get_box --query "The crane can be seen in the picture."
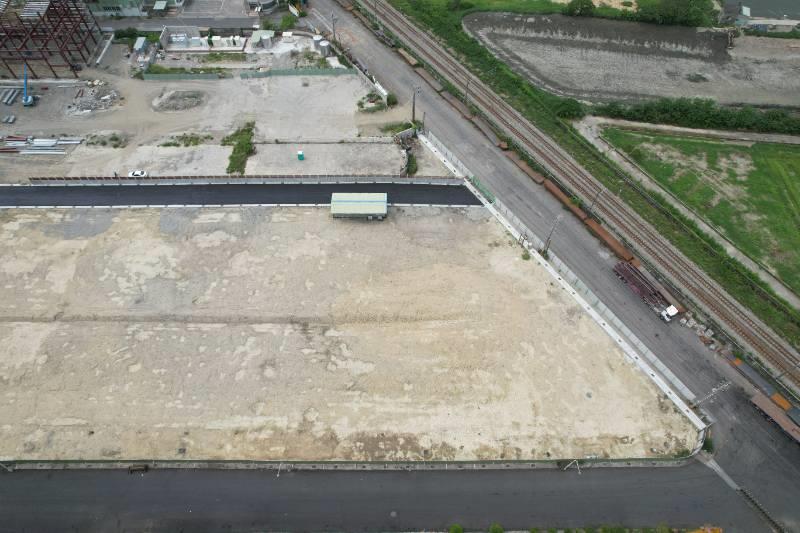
[17,63,46,110]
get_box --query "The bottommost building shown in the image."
[329,190,389,221]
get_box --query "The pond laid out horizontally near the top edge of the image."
[462,13,800,116]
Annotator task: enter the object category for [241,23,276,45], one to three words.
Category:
shed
